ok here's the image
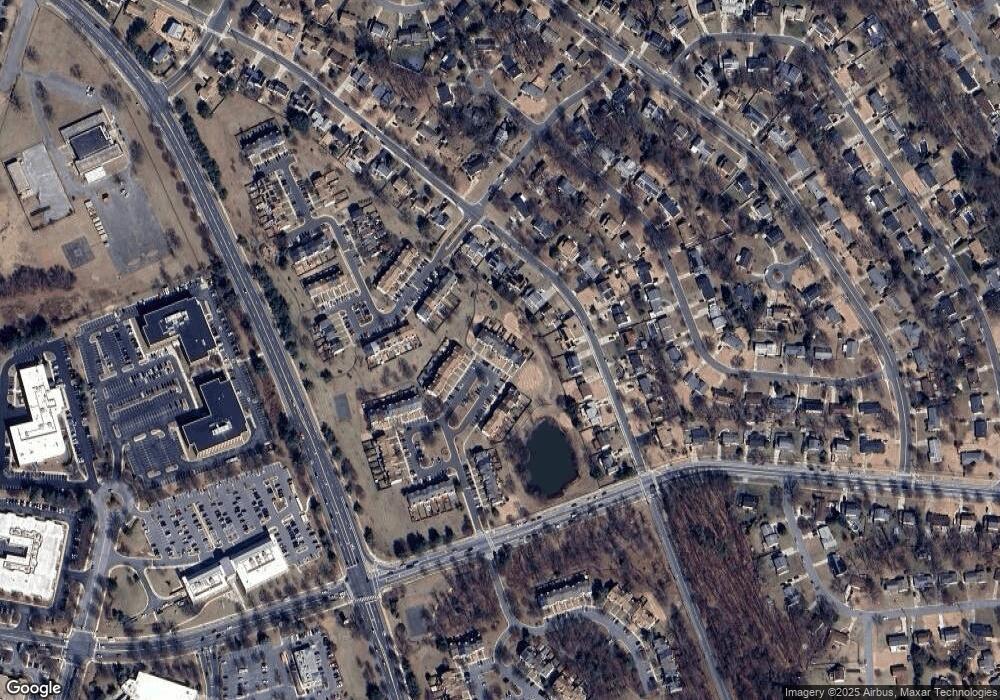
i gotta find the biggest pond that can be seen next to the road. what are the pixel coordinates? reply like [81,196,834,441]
[526,421,578,497]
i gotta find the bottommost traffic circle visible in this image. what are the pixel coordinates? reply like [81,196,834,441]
[95,479,134,516]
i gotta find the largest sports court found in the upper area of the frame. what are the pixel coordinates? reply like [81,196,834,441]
[62,236,95,268]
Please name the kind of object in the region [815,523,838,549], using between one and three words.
house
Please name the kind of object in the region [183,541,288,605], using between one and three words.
building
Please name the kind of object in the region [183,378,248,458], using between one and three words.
building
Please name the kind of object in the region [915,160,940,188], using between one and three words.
house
